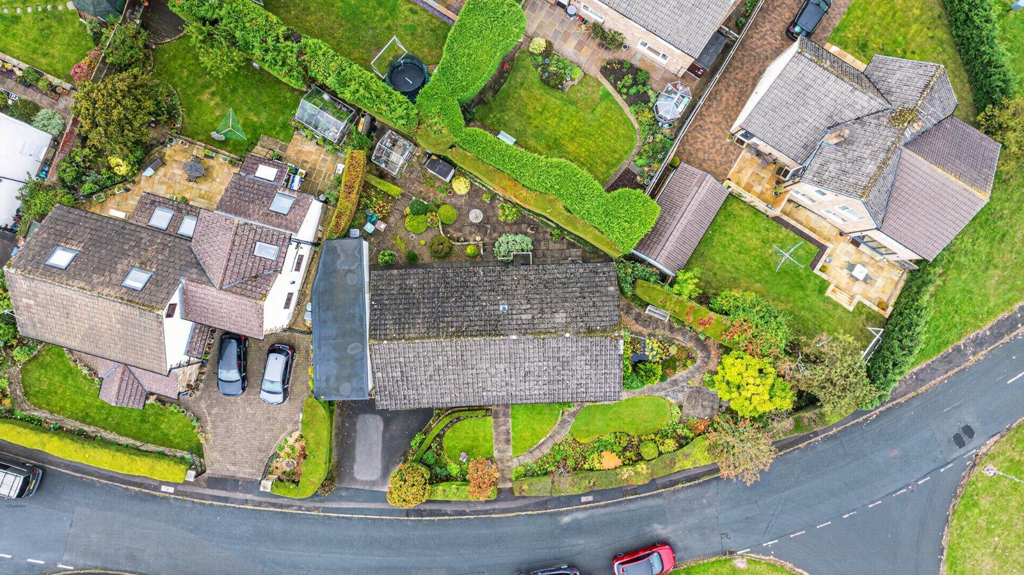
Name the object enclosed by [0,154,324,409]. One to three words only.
house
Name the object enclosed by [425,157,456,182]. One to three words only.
shed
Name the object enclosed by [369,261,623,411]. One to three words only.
house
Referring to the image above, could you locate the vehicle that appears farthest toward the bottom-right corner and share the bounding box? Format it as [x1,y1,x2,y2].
[610,539,676,575]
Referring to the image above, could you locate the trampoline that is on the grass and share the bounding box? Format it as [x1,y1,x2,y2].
[382,46,430,96]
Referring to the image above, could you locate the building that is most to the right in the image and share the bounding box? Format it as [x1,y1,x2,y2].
[730,35,1003,266]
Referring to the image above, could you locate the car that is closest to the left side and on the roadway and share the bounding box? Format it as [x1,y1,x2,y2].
[0,458,42,498]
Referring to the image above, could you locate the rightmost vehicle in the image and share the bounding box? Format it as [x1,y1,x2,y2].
[782,0,835,46]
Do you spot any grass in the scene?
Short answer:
Yes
